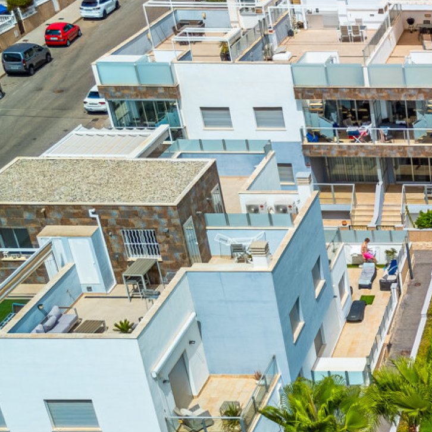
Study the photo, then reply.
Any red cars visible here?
Yes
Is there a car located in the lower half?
No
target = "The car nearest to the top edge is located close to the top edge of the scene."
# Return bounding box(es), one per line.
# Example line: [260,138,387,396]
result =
[79,0,121,18]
